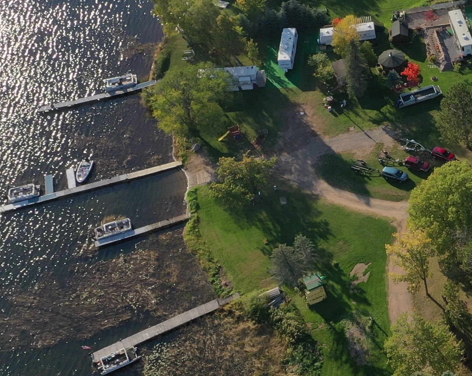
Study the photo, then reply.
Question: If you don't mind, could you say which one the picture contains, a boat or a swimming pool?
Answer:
boat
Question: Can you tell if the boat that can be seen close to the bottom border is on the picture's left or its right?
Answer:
left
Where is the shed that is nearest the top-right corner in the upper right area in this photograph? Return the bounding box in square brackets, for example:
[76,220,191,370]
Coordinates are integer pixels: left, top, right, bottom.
[390,19,408,47]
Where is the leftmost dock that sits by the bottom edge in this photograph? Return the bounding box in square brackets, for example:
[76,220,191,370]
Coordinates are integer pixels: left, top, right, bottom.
[92,299,227,361]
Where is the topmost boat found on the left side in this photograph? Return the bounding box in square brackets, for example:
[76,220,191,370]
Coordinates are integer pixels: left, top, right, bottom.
[103,74,139,92]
